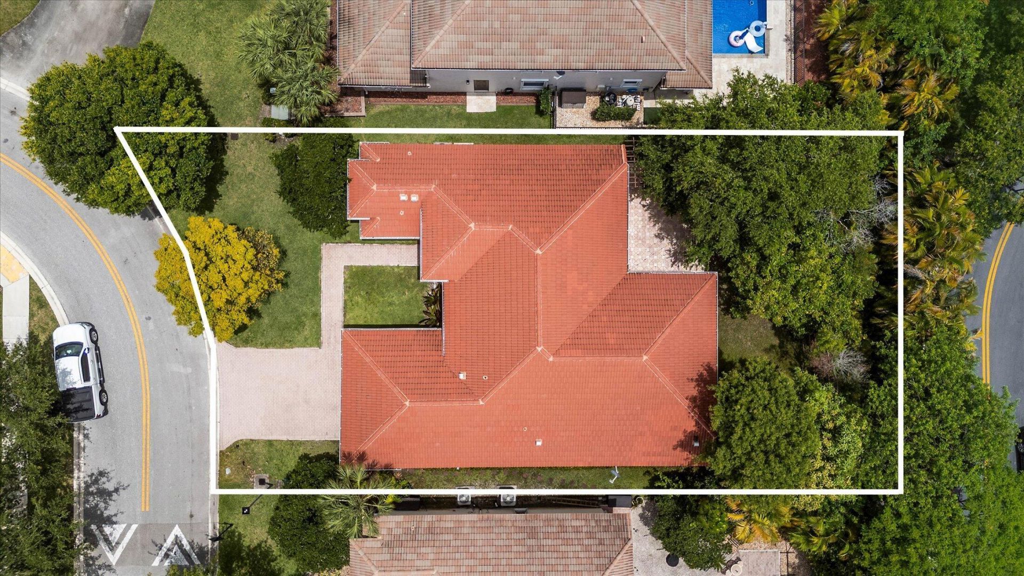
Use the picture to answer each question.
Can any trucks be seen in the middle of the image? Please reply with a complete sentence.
No, I can find no truck in the middle of the image.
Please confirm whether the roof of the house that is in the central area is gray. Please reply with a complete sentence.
No, from above the roof of the house that is in the central area looks red.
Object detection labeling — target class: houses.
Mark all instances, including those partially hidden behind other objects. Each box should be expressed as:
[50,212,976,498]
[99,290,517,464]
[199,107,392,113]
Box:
[350,506,633,576]
[335,0,714,101]
[339,142,719,470]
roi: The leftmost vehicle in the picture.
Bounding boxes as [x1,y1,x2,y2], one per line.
[47,317,106,424]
